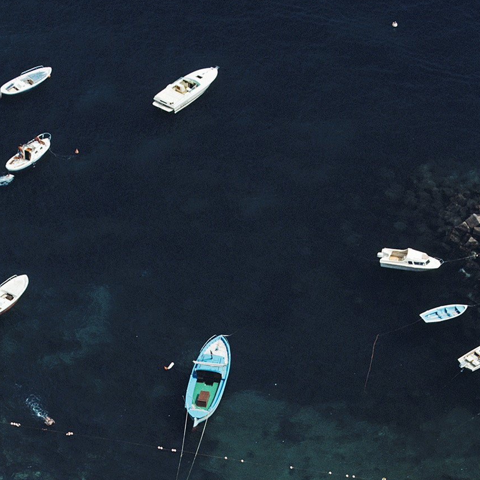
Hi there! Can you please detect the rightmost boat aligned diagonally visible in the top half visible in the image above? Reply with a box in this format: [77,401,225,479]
[149,67,221,123]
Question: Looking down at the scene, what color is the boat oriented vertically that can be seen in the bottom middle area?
blue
